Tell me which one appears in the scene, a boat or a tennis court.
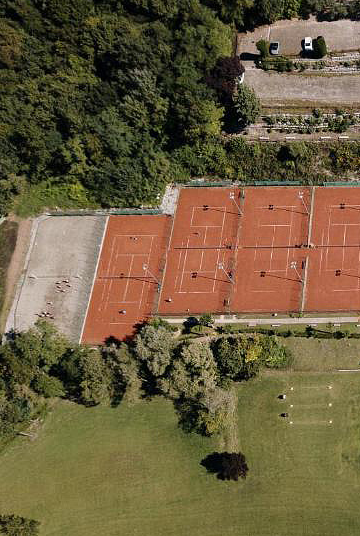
tennis court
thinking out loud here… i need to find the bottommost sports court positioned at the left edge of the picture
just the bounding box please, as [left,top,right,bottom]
[9,216,105,344]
